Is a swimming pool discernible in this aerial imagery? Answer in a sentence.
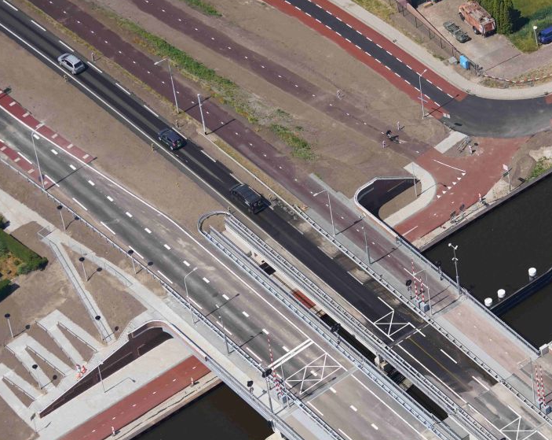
No, this view has no swimming pool in it.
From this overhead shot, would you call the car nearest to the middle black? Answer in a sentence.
Yes, black is the color of the car nearest to the middle.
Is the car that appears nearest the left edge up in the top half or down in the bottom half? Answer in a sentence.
The car that appears nearest the left edge sits in the top half of the picture.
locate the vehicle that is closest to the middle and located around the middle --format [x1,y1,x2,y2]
[228,180,273,212]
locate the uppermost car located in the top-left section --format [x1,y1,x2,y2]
[53,52,92,77]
